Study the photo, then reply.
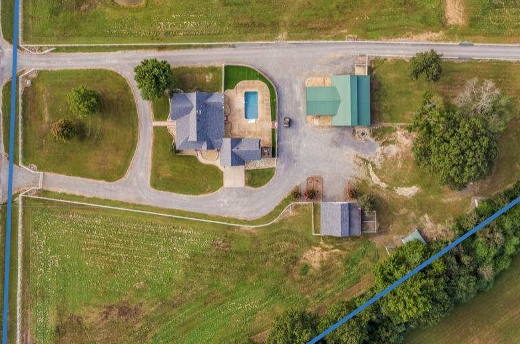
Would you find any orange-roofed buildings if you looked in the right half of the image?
No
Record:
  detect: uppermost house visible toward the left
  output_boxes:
[171,92,225,149]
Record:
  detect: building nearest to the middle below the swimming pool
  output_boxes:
[221,138,261,166]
